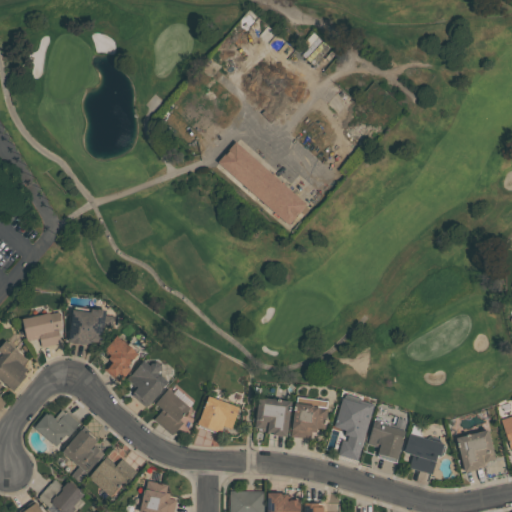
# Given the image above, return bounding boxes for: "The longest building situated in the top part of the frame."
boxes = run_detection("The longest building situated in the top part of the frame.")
[218,140,308,224]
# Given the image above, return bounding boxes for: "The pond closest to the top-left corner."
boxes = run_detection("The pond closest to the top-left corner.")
[84,54,136,158]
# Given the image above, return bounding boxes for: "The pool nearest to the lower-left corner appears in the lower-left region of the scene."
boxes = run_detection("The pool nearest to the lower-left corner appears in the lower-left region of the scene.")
[30,432,47,452]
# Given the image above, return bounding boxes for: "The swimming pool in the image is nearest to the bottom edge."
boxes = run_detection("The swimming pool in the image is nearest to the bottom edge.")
[440,458,452,478]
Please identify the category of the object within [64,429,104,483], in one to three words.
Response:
house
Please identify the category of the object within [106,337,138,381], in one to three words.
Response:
house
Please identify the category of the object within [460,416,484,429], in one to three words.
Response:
swimming pool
